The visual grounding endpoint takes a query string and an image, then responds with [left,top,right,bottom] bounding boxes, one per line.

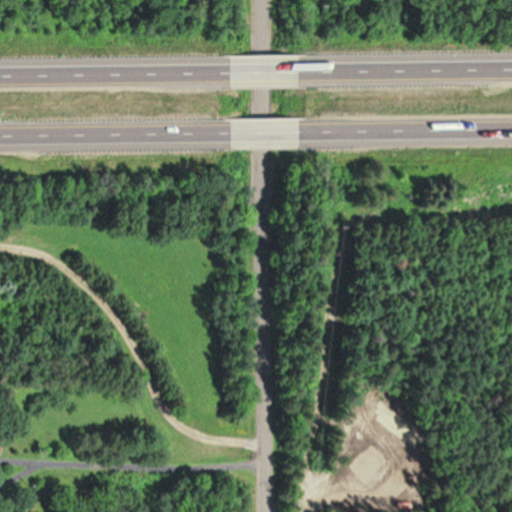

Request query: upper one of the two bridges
[225,54,304,90]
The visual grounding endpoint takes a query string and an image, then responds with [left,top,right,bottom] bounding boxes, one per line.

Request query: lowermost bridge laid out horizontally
[225,118,304,150]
